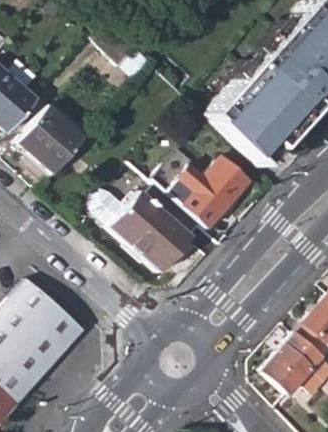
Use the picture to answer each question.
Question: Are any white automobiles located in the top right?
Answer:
No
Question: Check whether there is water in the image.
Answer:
No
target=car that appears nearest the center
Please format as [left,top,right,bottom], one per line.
[87,252,106,270]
